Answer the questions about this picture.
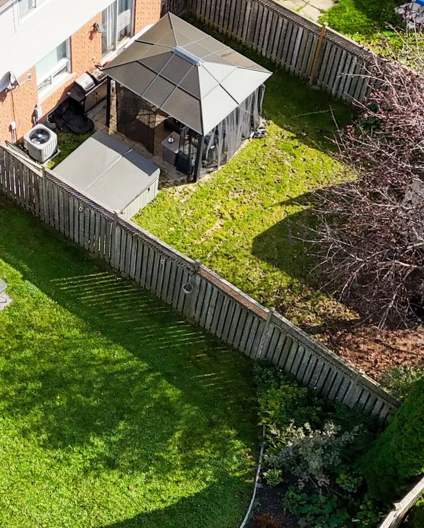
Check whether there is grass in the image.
Yes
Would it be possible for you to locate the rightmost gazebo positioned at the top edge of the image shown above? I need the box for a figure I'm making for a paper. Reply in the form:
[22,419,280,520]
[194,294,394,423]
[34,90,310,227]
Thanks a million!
[98,12,273,183]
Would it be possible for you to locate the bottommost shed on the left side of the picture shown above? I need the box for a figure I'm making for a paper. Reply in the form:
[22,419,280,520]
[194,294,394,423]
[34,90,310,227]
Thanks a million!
[53,130,164,234]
